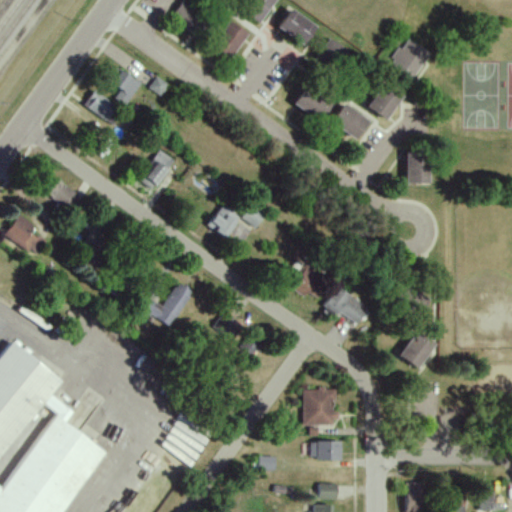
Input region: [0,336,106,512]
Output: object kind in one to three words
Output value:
building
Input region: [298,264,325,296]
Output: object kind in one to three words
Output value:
house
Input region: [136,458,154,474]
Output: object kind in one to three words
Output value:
vehicle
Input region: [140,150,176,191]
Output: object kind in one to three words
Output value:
house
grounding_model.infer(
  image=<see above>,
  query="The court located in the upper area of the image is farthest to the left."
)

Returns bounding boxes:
[463,62,500,130]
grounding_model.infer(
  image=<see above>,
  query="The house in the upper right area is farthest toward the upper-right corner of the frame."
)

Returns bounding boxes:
[394,38,430,75]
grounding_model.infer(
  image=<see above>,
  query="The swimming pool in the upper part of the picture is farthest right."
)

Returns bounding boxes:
[192,174,218,196]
